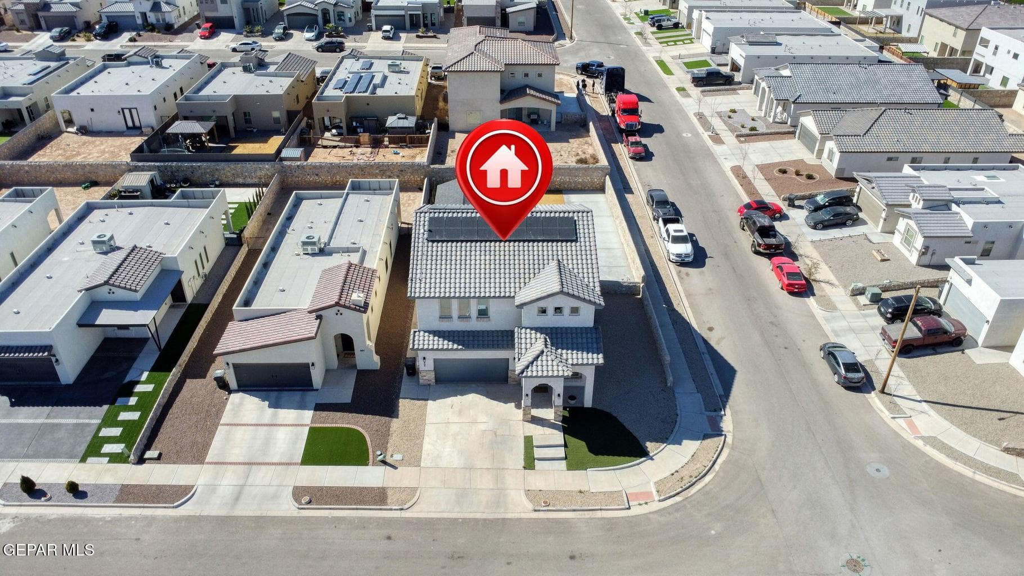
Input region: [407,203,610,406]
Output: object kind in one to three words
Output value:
house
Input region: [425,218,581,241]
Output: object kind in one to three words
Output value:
solar array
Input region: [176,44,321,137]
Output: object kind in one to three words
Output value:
house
